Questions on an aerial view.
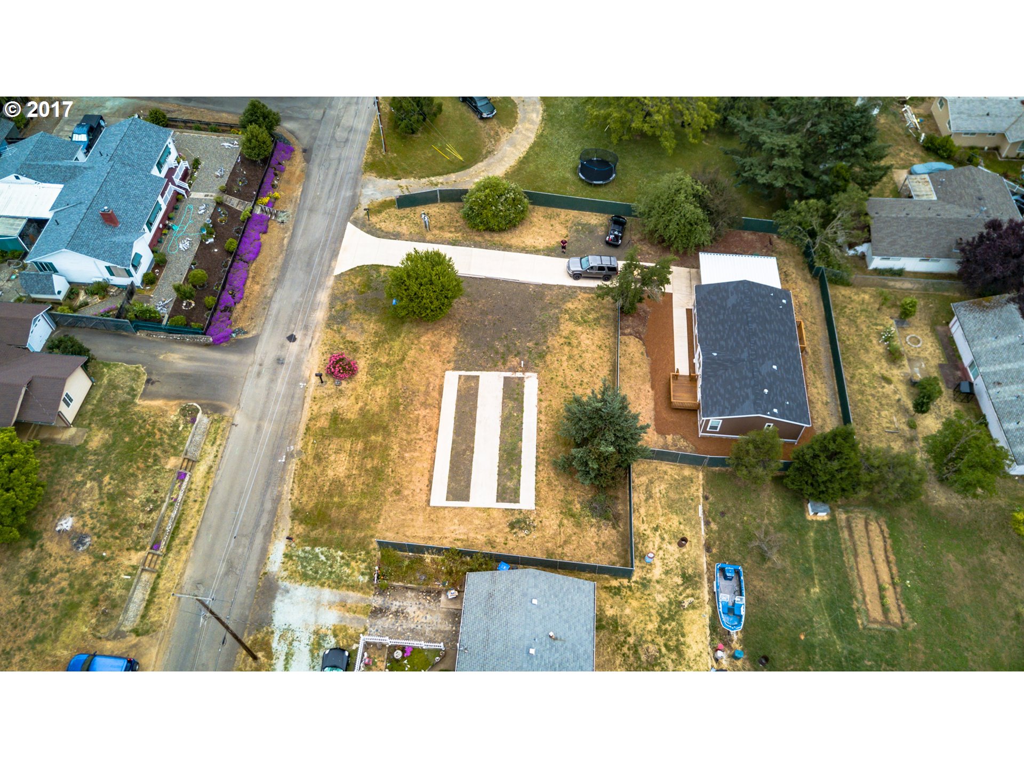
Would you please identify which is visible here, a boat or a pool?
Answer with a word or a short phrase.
boat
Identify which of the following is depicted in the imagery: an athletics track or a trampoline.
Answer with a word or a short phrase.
trampoline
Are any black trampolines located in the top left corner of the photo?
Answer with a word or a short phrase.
No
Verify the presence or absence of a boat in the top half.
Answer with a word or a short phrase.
No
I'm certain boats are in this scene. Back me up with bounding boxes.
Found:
[712,564,745,627]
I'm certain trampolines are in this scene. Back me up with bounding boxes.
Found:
[578,148,616,186]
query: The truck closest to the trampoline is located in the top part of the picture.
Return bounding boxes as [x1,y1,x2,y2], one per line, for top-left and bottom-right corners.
[605,217,628,253]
